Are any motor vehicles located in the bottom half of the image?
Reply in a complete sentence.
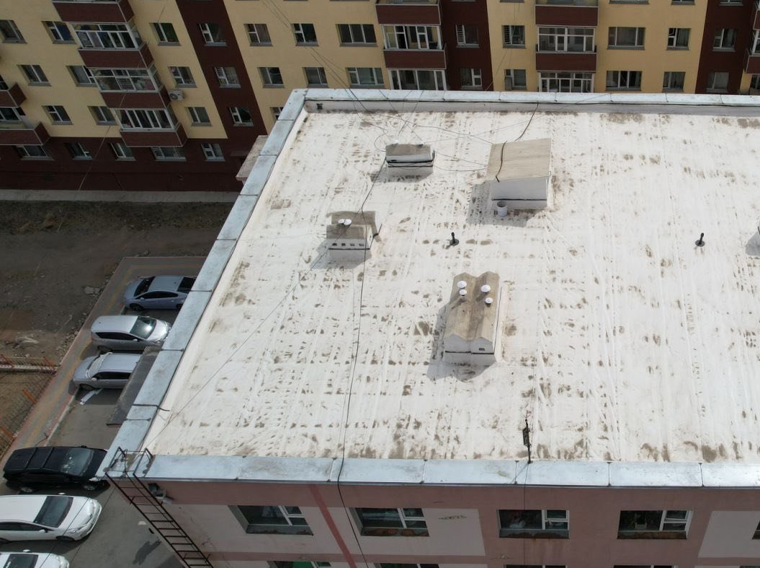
Yes, a motor vehicle shows up in the bottom half of the image.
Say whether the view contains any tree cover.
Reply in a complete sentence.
No, there is no tree cover in the image.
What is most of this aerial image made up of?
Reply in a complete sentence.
The bulk of the photo consists of buildings.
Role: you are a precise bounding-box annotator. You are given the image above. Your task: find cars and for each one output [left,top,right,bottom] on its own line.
[71,348,145,391]
[120,272,204,310]
[0,550,70,568]
[0,490,100,543]
[0,436,117,489]
[86,312,181,352]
